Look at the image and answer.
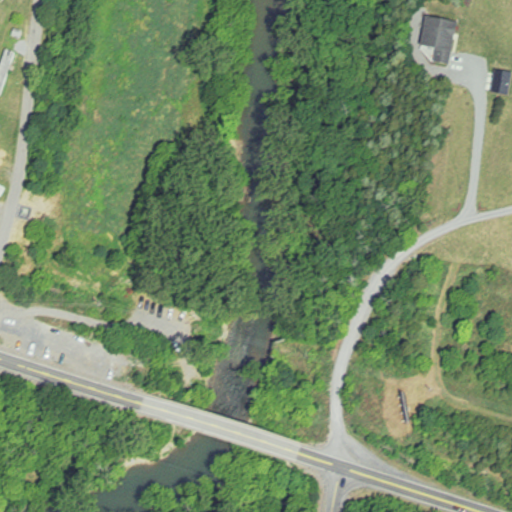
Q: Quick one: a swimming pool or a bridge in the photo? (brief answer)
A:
bridge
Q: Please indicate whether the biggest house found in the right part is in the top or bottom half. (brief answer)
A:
top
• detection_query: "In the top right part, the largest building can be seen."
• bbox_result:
[419,14,456,66]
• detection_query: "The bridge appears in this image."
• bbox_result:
[140,394,303,464]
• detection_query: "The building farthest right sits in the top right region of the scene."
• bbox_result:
[492,70,510,93]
